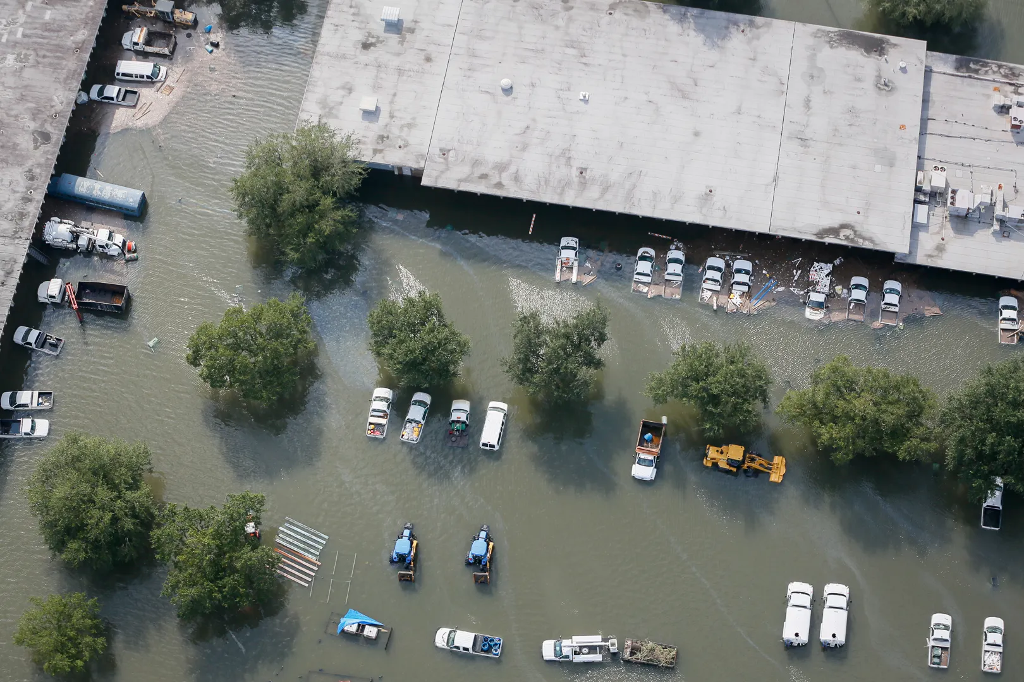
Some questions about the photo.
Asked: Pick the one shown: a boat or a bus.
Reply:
bus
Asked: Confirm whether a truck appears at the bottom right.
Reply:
Yes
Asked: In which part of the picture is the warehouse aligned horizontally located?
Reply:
top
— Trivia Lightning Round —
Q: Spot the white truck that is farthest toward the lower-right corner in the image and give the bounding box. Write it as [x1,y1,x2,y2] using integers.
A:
[980,616,1009,677]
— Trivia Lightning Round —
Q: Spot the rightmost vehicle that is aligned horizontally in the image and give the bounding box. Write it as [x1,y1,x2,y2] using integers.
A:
[701,444,785,488]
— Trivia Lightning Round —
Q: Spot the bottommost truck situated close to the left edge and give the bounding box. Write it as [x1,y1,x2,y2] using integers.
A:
[0,416,52,439]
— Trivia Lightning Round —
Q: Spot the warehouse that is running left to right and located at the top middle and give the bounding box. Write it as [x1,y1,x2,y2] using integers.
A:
[298,0,928,256]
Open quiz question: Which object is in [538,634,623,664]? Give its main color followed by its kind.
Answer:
white truck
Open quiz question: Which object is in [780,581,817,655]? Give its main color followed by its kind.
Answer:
white truck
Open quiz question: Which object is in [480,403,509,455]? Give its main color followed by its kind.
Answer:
white van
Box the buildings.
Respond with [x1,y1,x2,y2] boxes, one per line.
[0,0,111,358]
[298,0,928,256]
